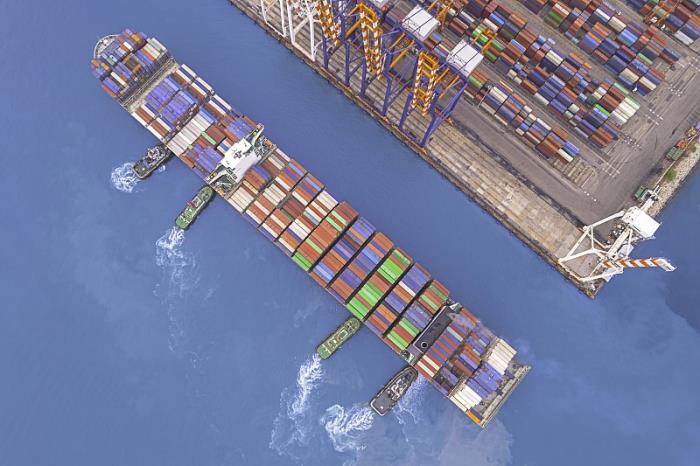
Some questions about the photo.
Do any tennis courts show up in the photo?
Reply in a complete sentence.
No, the frame has no tennis court in it.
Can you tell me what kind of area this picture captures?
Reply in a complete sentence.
It's a port.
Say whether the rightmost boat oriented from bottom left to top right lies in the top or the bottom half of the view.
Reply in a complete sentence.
The rightmost boat oriented from bottom left to top right sits in the bottom half of the picture.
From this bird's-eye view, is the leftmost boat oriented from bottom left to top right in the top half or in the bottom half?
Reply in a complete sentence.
The top half of the photo is where the leftmost boat oriented from bottom left to top right is.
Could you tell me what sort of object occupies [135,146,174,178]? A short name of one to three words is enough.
boat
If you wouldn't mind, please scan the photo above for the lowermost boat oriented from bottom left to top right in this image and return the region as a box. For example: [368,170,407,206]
[372,366,419,415]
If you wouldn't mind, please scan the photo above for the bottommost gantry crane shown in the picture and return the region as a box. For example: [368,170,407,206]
[557,180,683,282]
